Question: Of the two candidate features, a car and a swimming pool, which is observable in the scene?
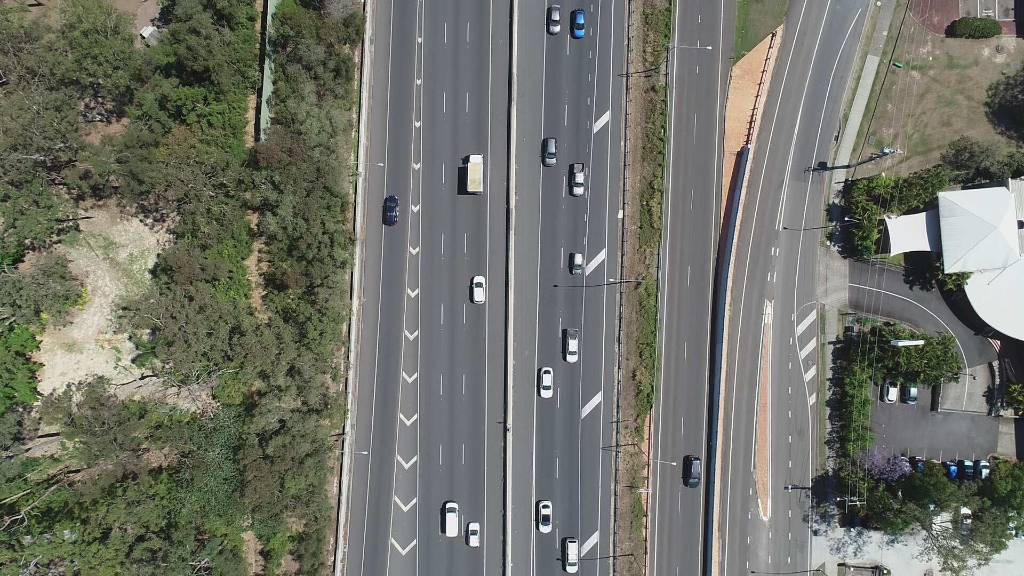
car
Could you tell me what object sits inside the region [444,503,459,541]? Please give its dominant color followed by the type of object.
white vehicle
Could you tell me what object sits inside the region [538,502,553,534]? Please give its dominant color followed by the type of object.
white car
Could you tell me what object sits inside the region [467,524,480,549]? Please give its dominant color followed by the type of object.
white vehicle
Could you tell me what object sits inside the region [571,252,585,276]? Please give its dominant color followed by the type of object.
white car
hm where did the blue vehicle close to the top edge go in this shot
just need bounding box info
[573,6,587,38]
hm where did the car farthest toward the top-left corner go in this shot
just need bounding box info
[383,195,398,225]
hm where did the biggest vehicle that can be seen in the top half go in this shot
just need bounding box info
[466,153,484,194]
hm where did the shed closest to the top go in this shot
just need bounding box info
[131,14,171,50]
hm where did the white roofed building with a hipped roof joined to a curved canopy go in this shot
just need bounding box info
[935,179,1024,339]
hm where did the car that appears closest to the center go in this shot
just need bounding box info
[471,275,485,304]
